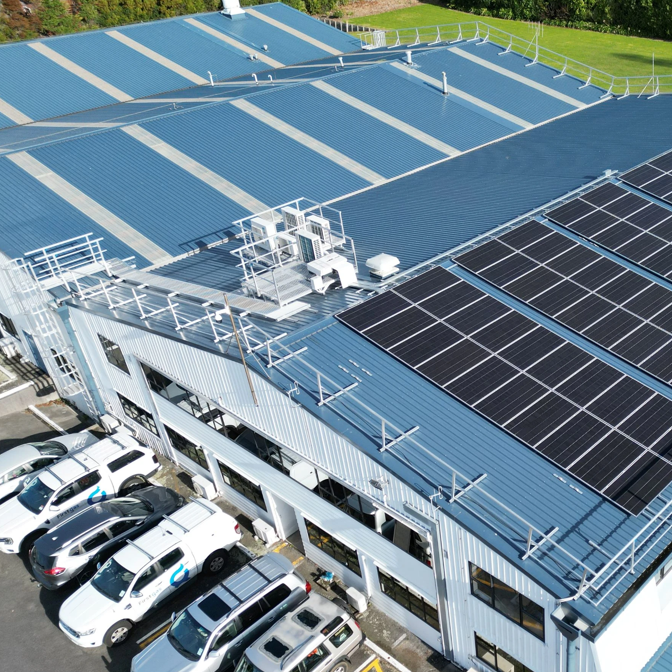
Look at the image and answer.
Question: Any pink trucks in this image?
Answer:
No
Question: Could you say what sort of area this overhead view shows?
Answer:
industrial area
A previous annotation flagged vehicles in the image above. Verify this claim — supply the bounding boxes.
[52,498,248,656]
[219,585,375,672]
[0,424,101,507]
[127,546,313,672]
[21,483,186,594]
